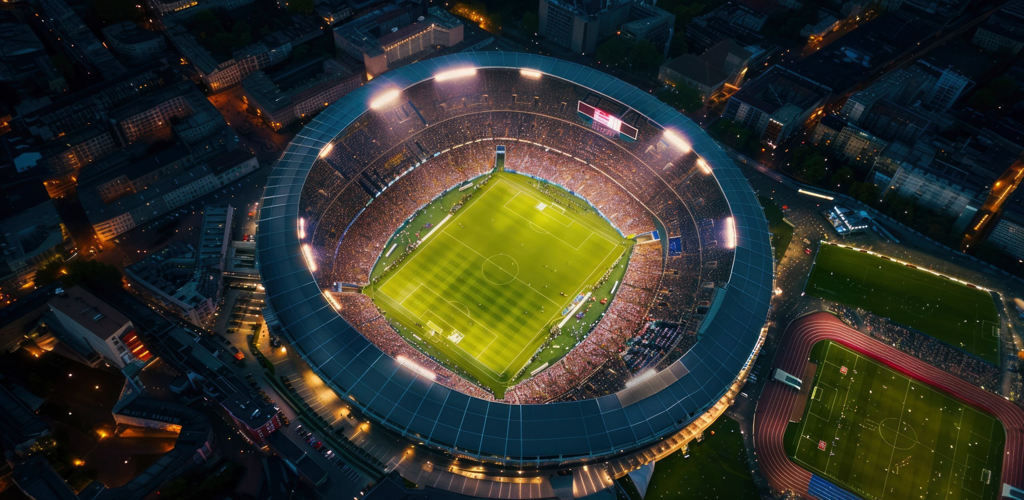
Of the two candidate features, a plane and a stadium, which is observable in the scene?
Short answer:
stadium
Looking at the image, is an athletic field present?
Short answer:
Yes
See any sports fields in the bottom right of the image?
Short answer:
Yes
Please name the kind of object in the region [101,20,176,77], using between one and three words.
building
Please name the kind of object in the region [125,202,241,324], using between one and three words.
building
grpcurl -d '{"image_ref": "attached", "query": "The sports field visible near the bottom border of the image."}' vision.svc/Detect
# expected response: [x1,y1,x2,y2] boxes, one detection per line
[794,341,996,500]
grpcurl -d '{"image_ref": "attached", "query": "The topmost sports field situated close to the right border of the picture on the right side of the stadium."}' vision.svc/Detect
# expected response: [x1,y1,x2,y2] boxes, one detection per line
[805,244,1000,363]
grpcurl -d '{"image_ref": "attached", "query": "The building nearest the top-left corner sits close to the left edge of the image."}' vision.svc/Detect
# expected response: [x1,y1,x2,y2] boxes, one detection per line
[0,22,57,69]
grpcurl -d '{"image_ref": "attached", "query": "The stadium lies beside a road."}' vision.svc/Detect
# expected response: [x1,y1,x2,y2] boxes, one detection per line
[250,48,777,484]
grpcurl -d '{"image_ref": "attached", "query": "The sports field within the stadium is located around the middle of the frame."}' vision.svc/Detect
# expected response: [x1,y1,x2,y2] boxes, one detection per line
[370,174,632,384]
